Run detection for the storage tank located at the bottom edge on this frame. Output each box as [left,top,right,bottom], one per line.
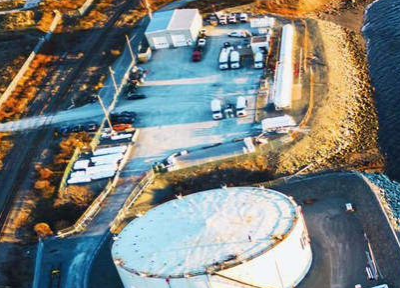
[111,185,313,288]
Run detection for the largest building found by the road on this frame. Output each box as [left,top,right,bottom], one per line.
[147,8,196,49]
